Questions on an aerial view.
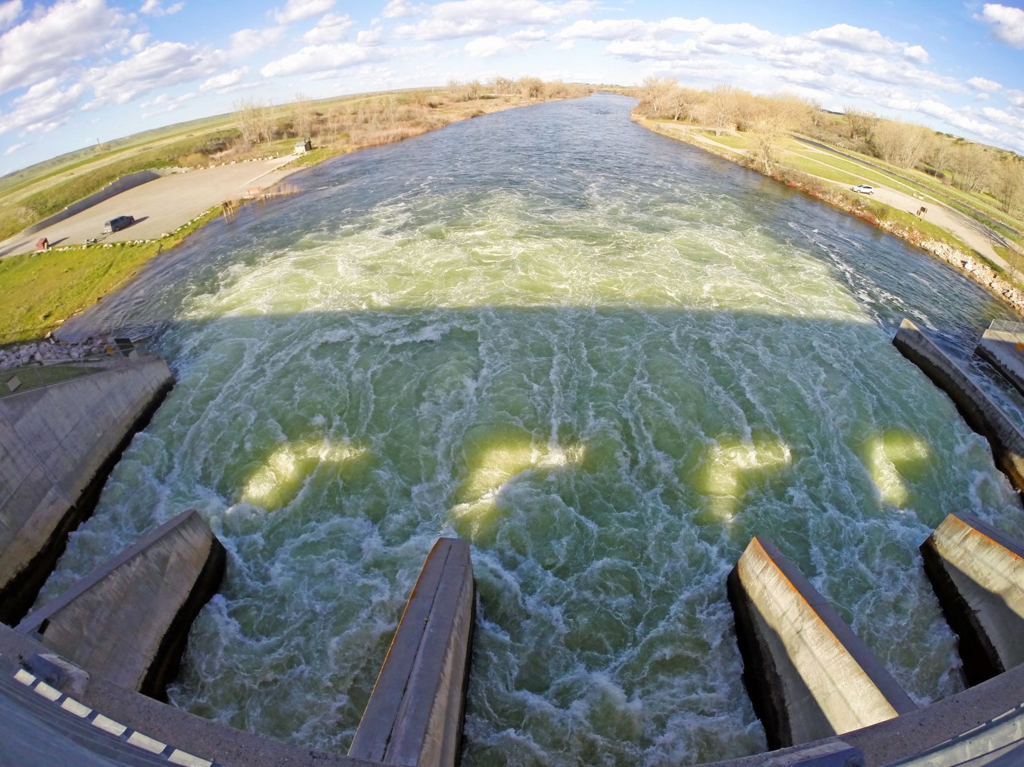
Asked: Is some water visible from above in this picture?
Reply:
Yes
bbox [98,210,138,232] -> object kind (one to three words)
truck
